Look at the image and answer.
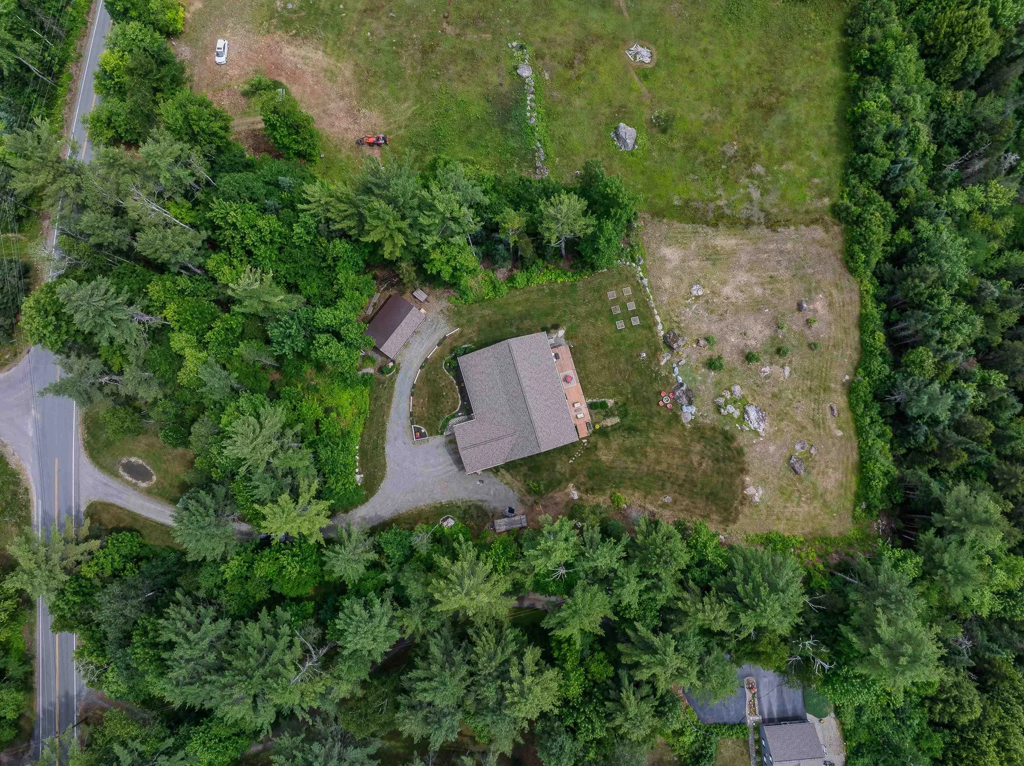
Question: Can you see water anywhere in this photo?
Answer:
No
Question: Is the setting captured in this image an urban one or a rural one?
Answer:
rural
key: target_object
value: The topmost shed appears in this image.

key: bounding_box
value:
[364,294,428,360]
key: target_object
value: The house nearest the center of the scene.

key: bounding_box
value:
[452,332,579,475]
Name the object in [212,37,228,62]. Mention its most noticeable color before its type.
white car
